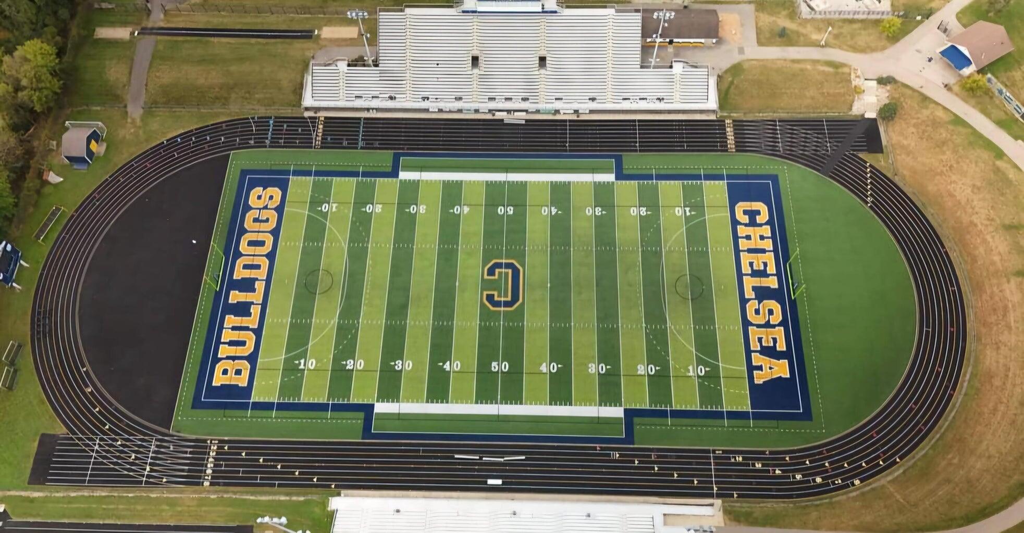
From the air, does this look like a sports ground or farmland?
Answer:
sports ground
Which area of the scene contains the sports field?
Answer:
center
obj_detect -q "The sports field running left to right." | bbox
[252,177,750,410]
